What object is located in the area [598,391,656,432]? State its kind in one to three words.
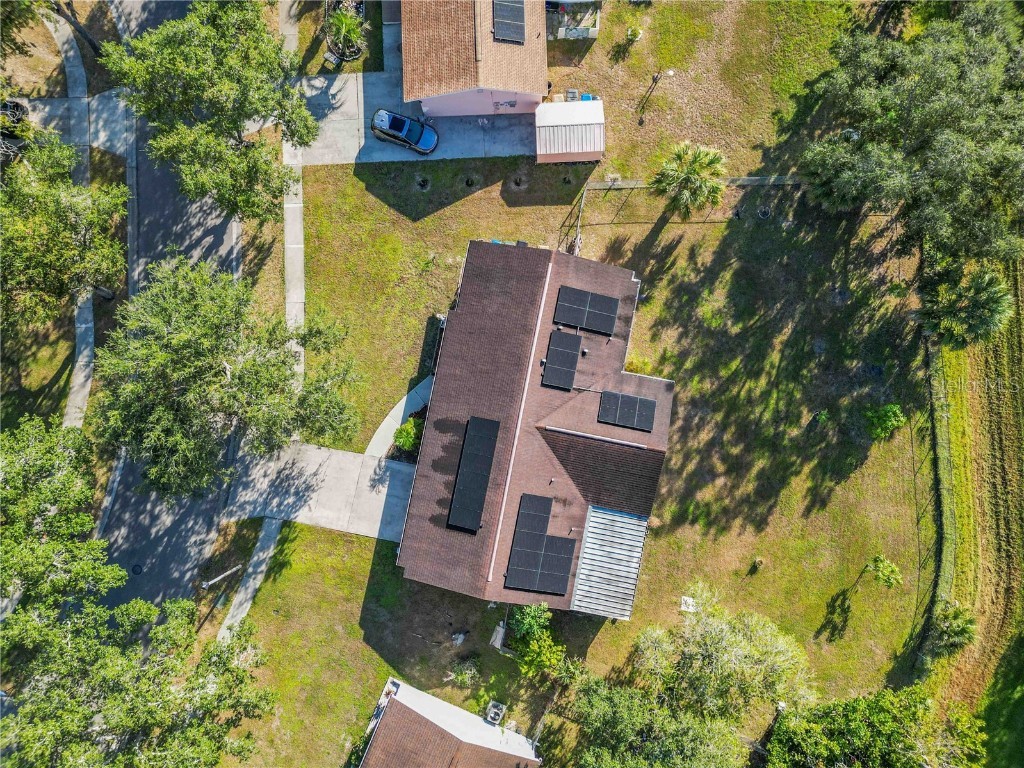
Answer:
solar array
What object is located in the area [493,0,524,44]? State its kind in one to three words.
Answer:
solar array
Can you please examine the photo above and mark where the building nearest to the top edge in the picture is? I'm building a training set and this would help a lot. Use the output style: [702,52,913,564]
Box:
[402,0,548,116]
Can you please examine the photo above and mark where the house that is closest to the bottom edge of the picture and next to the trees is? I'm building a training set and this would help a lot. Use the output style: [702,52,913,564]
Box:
[360,681,540,768]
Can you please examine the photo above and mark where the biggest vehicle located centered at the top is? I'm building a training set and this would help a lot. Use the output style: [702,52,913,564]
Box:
[371,106,440,158]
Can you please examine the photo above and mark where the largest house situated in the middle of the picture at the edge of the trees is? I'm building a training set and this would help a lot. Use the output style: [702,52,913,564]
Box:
[395,241,676,620]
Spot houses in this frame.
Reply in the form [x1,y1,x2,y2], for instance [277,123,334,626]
[402,0,548,116]
[360,681,540,768]
[395,241,676,620]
